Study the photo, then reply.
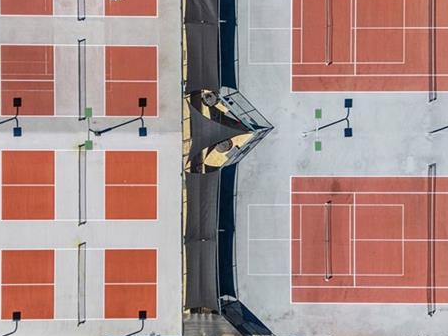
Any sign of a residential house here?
No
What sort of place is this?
sports ground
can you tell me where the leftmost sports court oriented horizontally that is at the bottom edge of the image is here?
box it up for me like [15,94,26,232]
[1,249,157,321]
